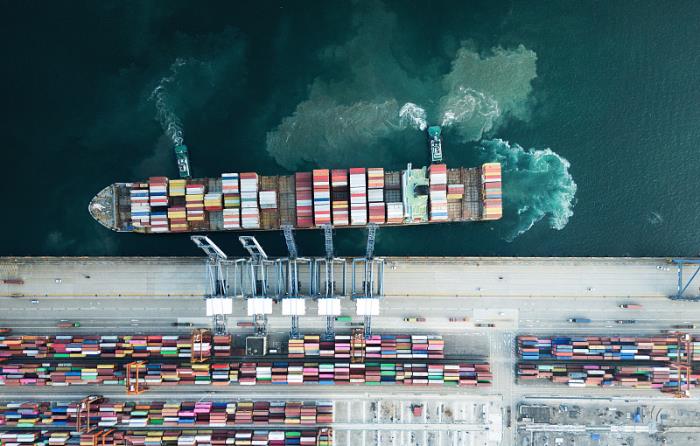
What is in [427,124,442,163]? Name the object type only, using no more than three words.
boat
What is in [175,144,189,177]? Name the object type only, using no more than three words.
boat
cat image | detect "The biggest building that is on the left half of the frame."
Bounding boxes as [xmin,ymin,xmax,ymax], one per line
[247,337,266,356]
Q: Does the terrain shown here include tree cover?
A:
No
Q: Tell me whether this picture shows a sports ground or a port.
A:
port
